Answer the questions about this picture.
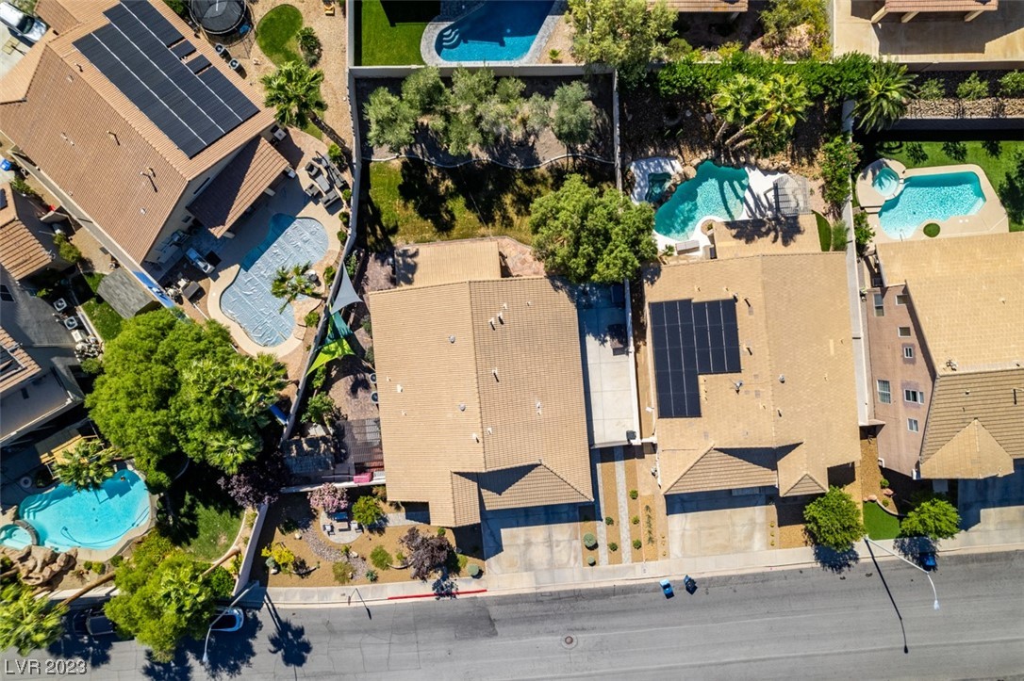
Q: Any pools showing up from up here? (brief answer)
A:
Yes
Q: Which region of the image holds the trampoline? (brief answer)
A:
top left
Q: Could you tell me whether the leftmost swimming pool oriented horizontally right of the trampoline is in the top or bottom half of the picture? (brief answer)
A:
top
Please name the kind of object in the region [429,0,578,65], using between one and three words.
swimming pool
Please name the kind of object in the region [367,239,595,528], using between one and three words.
house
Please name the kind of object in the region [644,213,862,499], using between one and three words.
house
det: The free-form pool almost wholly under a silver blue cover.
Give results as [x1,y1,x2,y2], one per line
[220,213,329,347]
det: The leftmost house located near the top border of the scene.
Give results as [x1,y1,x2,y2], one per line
[0,0,295,264]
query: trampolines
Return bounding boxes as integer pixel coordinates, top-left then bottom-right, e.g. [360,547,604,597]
[178,0,250,40]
